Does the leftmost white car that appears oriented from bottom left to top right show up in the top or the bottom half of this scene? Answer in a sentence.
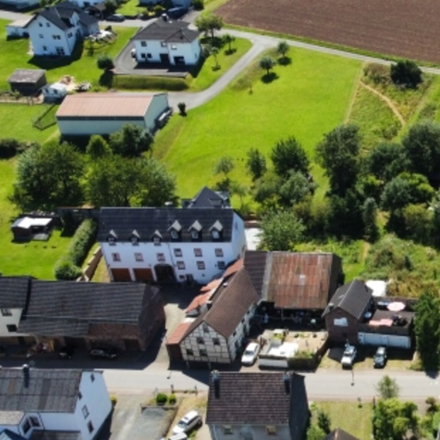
Seen from above, the leftmost white car that appears oriented from bottom left to top right lies in the bottom half of the view.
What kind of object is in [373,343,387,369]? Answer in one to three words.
car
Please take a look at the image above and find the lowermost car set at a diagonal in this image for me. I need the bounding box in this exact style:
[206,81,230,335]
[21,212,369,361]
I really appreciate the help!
[170,406,204,435]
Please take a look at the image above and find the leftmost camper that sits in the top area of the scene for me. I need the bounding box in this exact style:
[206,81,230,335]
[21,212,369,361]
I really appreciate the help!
[42,84,78,103]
